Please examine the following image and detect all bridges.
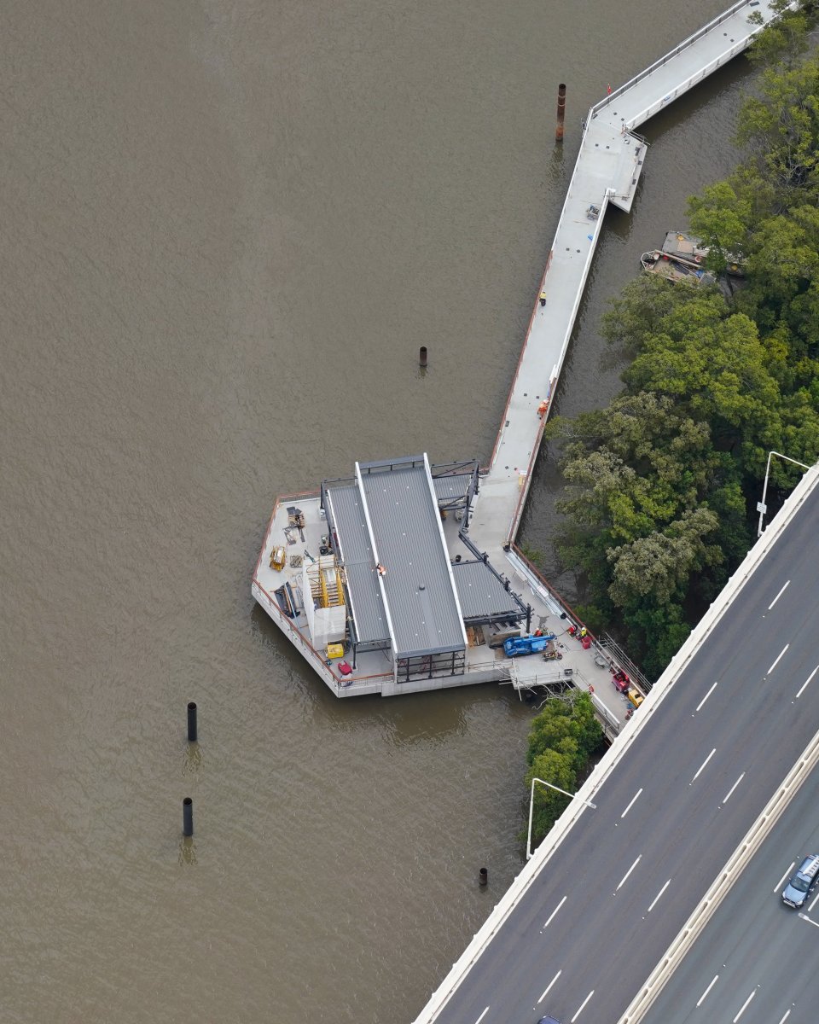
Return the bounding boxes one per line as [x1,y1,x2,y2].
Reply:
[409,454,819,1024]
